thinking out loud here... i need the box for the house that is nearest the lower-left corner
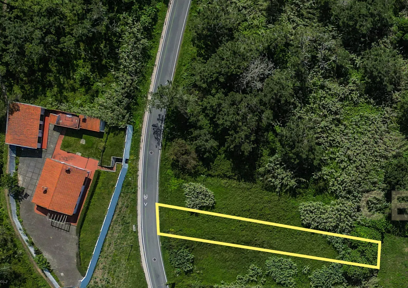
[32,157,96,215]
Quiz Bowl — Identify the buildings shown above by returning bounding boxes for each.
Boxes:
[49,113,109,133]
[4,101,54,151]
[32,157,96,215]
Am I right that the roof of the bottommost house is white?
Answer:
No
